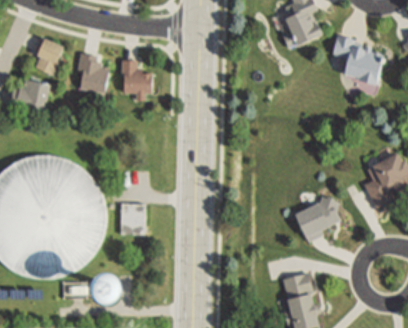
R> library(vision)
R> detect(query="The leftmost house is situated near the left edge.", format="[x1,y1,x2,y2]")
[20,77,50,108]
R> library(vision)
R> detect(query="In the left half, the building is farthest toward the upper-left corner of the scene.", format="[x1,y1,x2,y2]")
[38,38,68,75]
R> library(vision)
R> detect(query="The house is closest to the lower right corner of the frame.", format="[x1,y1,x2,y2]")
[283,274,320,328]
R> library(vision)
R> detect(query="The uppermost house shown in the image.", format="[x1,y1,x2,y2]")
[286,0,325,46]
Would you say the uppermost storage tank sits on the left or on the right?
left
